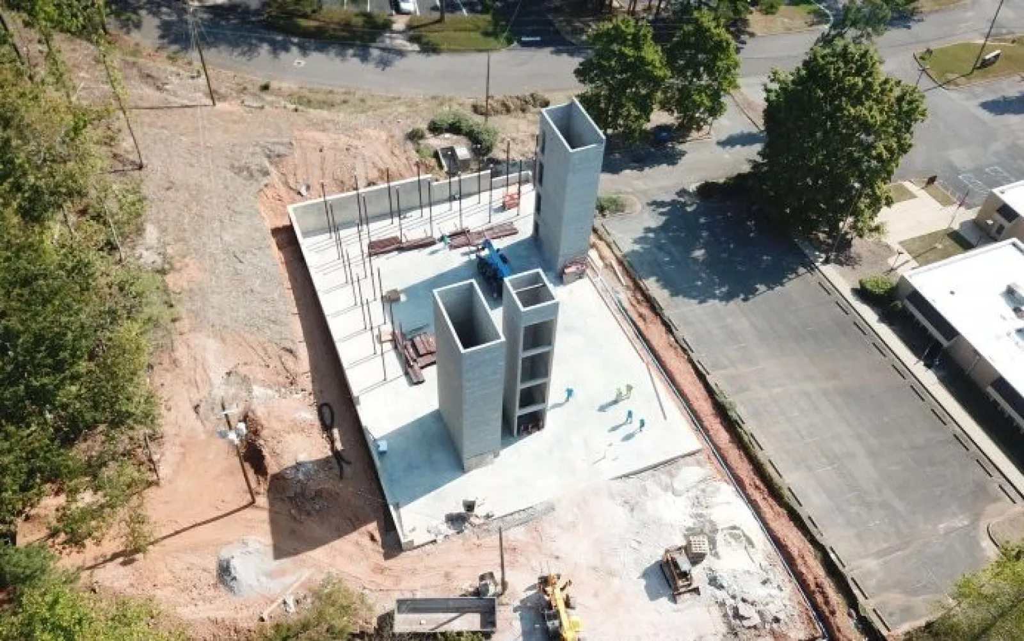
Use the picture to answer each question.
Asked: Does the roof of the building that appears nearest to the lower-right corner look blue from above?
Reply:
No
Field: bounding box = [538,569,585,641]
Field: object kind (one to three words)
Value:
work vehicle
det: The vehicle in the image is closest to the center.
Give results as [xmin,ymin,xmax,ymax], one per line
[473,240,517,291]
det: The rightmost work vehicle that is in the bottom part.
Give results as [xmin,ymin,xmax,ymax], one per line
[656,540,705,604]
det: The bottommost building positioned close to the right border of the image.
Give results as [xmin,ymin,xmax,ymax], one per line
[896,234,1024,449]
